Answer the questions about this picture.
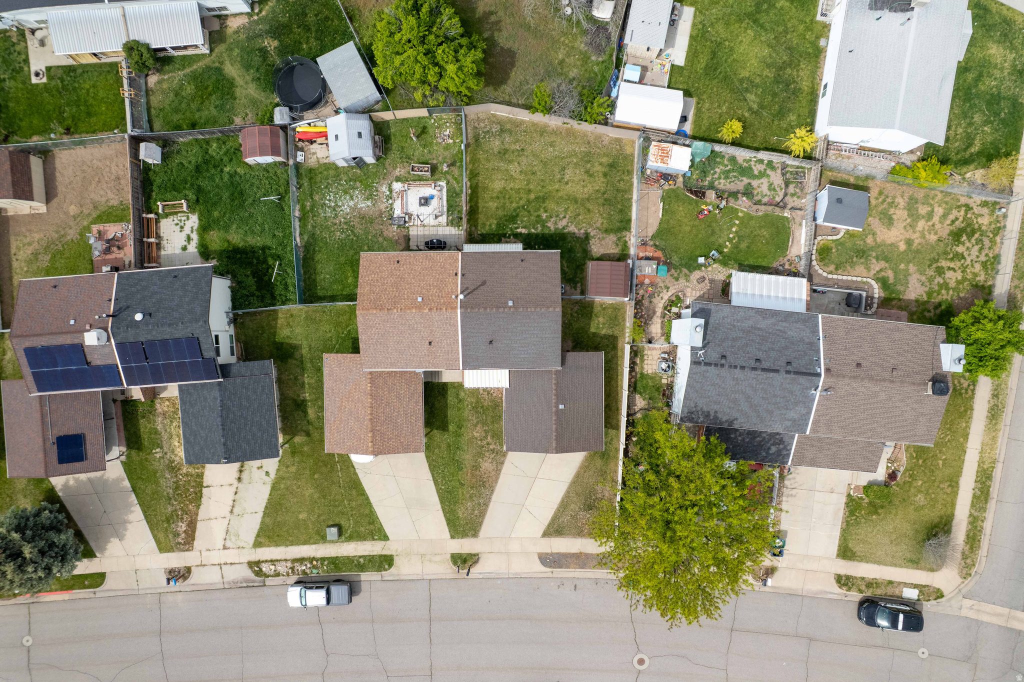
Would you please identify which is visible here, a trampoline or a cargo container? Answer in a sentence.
Visible in the photo is a trampoline.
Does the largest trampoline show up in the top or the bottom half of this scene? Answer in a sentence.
The largest trampoline sits in the top half of the picture.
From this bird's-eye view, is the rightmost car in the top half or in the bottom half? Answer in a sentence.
The bottom half of the photo is where the rightmost car is.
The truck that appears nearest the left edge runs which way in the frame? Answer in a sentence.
The truck that appears nearest the left edge runs from side to side in the image.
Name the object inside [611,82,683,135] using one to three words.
building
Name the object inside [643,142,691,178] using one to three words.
shed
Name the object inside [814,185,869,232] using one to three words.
shed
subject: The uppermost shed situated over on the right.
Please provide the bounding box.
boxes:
[621,0,673,60]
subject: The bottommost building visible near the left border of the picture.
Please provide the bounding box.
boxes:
[0,263,284,477]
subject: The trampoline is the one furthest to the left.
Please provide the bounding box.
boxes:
[269,52,329,116]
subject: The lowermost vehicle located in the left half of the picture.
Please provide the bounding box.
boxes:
[285,584,353,617]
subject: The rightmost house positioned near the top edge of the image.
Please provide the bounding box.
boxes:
[814,0,972,153]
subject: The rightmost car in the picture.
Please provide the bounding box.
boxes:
[859,599,926,635]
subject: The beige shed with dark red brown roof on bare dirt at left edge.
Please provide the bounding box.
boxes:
[0,149,51,214]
